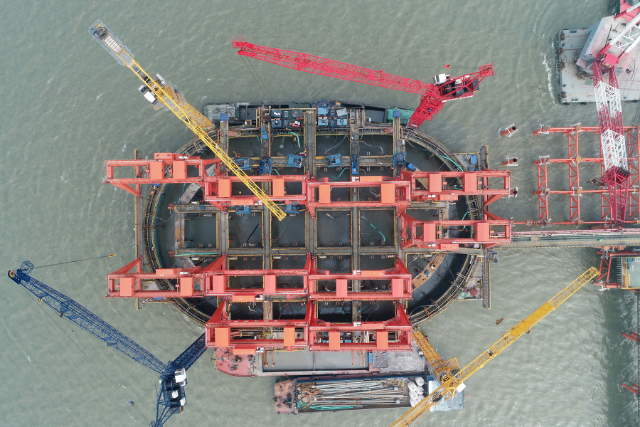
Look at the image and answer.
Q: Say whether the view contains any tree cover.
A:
No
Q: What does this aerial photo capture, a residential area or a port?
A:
port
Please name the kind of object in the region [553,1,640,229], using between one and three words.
crane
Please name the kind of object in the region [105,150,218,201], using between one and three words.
container crane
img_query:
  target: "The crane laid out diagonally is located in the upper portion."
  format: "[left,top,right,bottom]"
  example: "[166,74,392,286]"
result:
[83,16,288,220]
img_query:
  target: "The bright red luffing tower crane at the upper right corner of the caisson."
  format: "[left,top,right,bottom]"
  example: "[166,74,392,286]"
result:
[229,24,500,133]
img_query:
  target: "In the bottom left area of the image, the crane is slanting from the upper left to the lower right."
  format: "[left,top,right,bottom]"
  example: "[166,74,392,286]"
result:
[0,250,210,427]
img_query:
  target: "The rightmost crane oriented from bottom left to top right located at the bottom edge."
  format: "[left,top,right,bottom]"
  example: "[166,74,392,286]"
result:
[388,266,599,427]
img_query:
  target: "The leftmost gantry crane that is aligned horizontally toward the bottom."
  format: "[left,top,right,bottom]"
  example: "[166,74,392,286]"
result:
[105,253,218,304]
